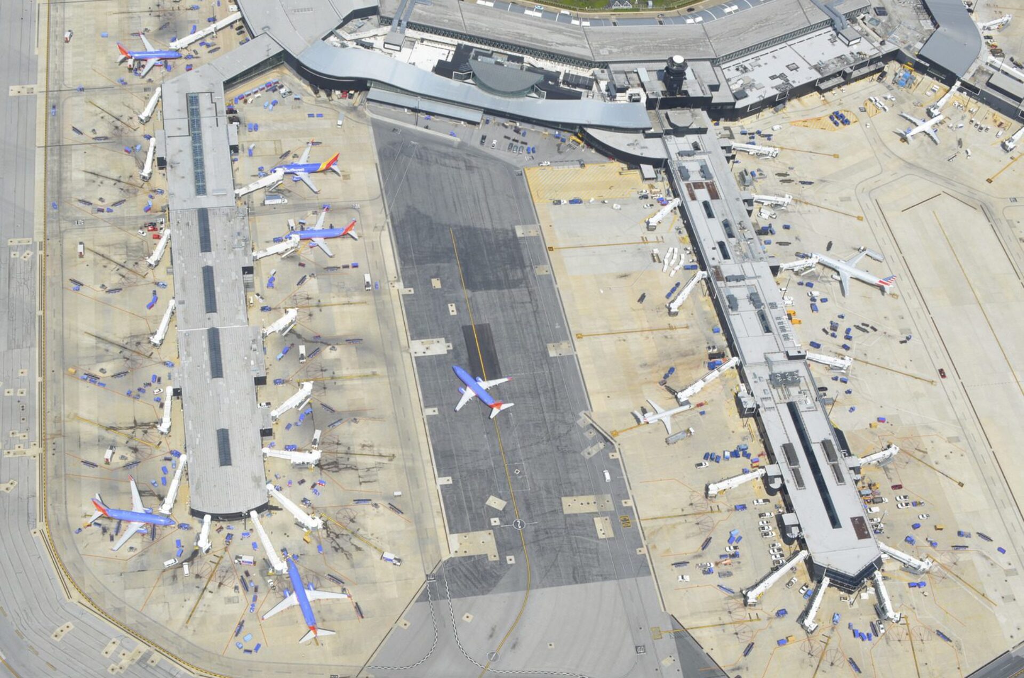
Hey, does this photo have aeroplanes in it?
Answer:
Yes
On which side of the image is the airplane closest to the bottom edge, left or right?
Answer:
left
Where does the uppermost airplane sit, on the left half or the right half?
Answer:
left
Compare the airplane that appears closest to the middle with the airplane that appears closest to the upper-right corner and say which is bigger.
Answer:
the airplane that appears closest to the middle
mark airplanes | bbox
[900,112,944,141]
[261,560,350,643]
[286,205,358,259]
[272,141,341,192]
[639,399,694,433]
[809,251,895,293]
[88,476,176,551]
[452,367,515,418]
[116,30,182,76]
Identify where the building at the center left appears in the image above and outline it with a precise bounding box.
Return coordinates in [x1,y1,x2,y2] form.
[156,39,277,524]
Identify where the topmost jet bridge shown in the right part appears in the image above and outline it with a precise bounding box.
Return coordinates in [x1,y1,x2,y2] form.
[978,15,1011,33]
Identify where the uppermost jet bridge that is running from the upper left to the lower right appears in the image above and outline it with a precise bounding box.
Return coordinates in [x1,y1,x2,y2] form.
[266,482,327,533]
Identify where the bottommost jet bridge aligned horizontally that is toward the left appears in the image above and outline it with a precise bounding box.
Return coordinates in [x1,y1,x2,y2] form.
[262,447,326,468]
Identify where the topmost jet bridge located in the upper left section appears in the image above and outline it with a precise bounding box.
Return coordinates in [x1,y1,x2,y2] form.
[168,14,238,52]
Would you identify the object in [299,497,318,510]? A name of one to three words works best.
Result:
vehicle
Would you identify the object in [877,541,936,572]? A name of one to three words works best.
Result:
jet bridge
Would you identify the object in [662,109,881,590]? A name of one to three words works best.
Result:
building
